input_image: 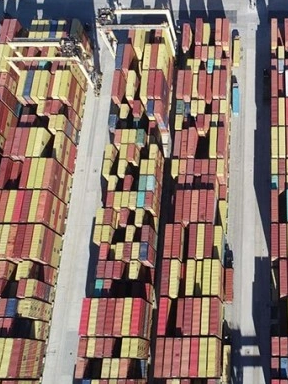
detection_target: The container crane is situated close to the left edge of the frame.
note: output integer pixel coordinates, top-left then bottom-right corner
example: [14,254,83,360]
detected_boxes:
[2,31,100,96]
